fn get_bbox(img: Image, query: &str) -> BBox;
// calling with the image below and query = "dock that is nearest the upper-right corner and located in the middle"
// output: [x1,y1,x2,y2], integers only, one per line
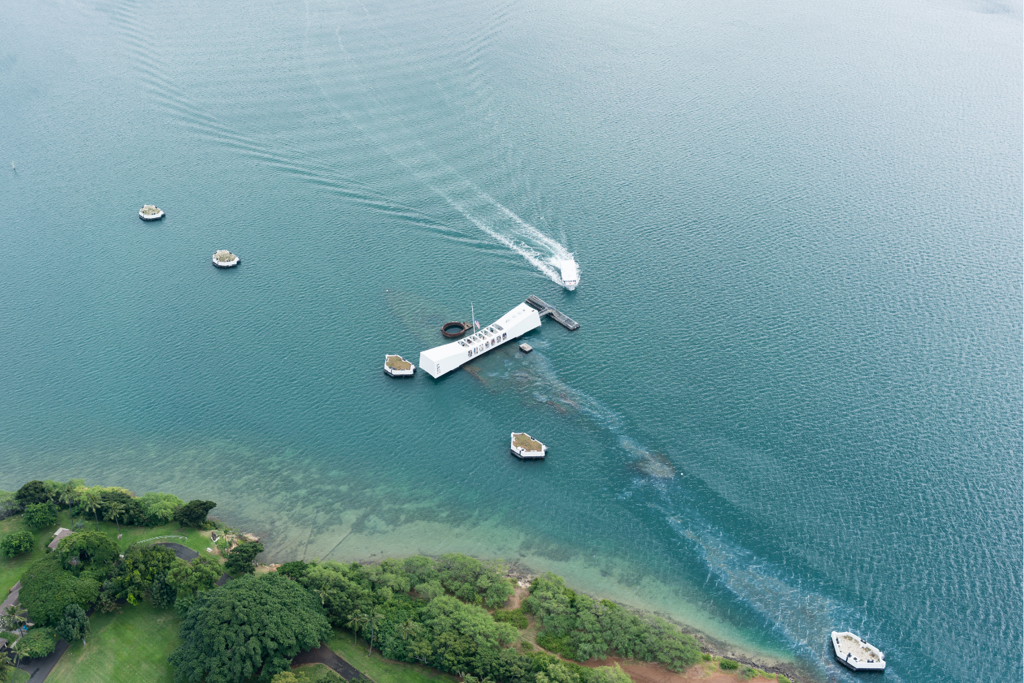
[524,294,582,332]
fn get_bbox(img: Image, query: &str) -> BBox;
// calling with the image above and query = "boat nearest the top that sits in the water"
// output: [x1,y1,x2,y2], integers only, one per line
[560,261,576,290]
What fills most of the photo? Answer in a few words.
water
